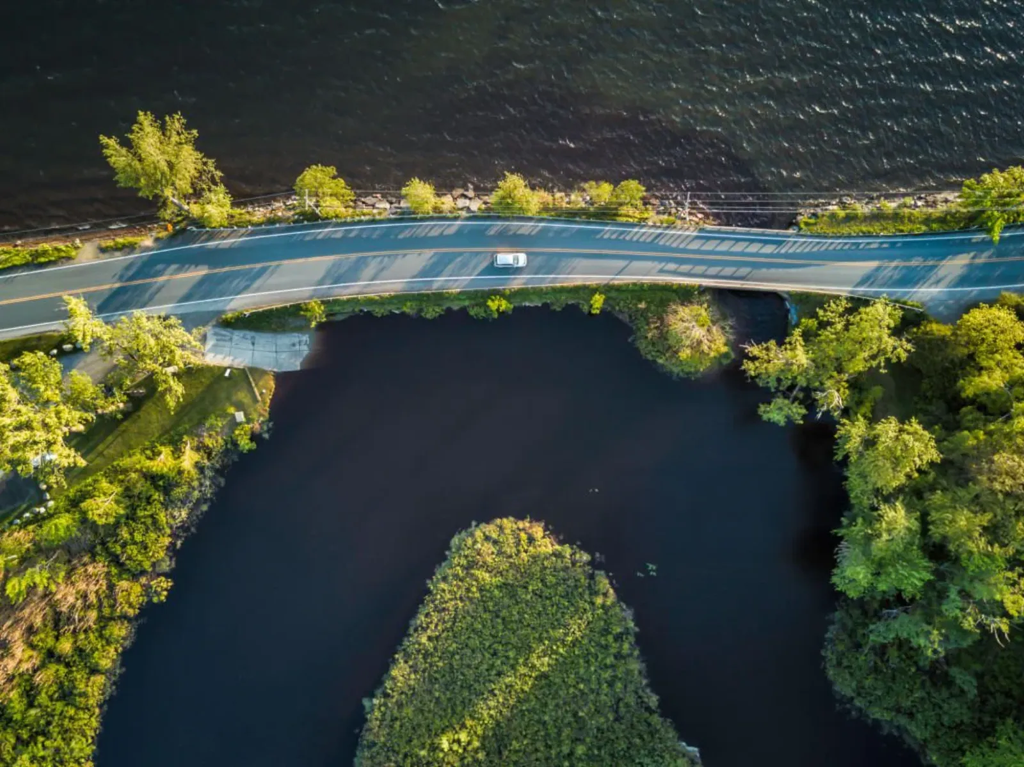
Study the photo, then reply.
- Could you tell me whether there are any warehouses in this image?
No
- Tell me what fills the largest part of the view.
water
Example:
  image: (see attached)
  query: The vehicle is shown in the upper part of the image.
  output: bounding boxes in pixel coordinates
[493,251,527,267]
